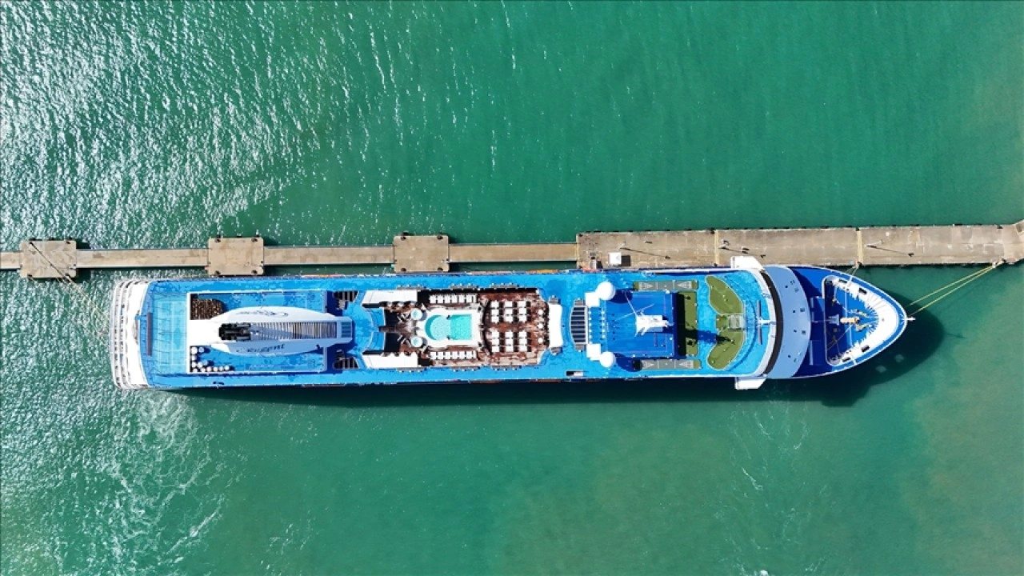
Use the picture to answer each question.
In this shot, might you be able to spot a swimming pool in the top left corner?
No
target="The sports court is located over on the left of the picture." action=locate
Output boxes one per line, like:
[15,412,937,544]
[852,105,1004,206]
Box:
[142,293,186,374]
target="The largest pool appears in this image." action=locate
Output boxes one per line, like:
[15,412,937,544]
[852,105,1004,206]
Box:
[417,307,483,349]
